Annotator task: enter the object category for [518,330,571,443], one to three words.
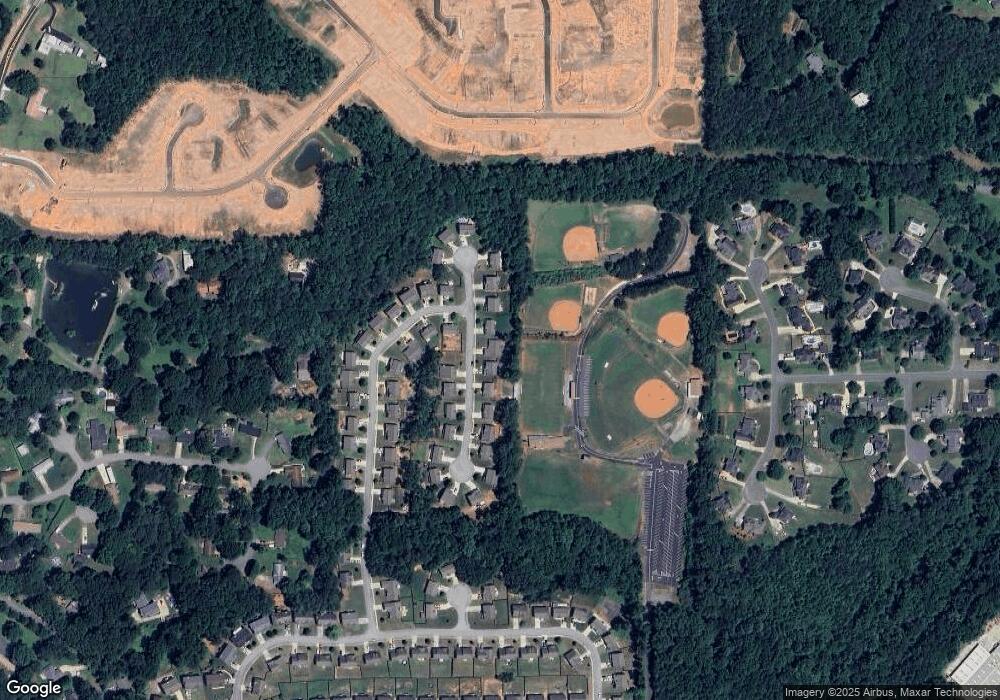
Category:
sports field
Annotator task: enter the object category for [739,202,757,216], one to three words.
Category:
swimming pool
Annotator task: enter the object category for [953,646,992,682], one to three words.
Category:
building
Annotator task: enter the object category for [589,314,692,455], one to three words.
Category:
baseball field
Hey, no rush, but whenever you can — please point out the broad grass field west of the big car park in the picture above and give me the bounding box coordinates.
[518,455,644,535]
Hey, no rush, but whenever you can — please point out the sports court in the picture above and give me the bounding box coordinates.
[529,436,566,449]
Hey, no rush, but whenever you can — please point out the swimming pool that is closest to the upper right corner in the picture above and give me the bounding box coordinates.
[906,221,926,235]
